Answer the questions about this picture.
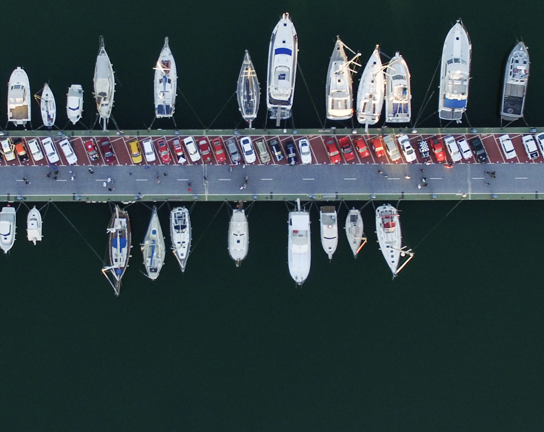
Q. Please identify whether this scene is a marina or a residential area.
marina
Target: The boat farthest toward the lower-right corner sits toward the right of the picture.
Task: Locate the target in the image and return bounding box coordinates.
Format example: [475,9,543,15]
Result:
[372,201,442,276]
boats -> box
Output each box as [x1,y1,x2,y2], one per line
[384,49,412,126]
[315,201,341,263]
[415,17,472,127]
[138,201,165,278]
[27,204,45,243]
[354,46,398,132]
[500,42,532,126]
[91,35,118,130]
[150,36,204,128]
[285,199,313,286]
[34,83,59,131]
[0,205,19,256]
[372,201,442,276]
[209,49,260,129]
[65,85,85,127]
[6,63,33,129]
[266,9,323,128]
[55,202,137,296]
[191,199,252,270]
[167,201,194,272]
[343,201,367,258]
[324,35,361,127]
